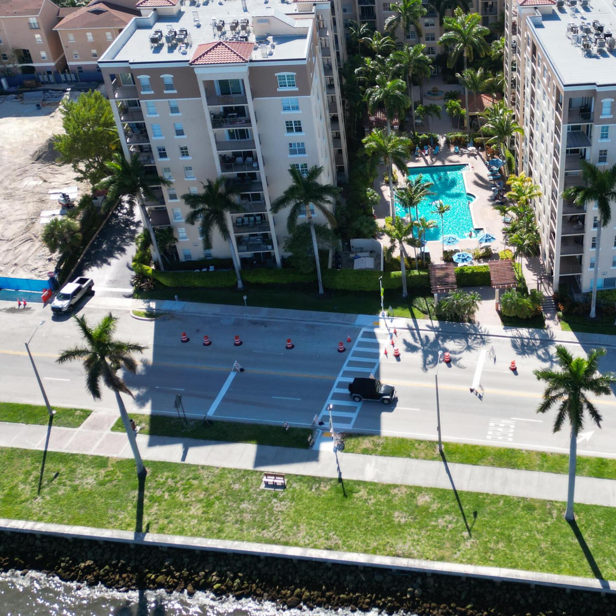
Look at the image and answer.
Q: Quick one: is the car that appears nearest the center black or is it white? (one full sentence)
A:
The color of the car that appears nearest the center is black.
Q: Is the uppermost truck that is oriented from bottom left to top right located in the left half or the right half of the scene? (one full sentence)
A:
It is on the left.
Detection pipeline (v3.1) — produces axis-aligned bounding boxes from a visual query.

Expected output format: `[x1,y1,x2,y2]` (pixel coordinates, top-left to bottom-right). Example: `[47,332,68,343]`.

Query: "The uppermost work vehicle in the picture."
[56,184,72,211]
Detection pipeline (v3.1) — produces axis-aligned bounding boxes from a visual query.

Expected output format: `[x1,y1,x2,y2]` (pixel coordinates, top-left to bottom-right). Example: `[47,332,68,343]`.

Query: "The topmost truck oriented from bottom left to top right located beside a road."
[56,280,95,314]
